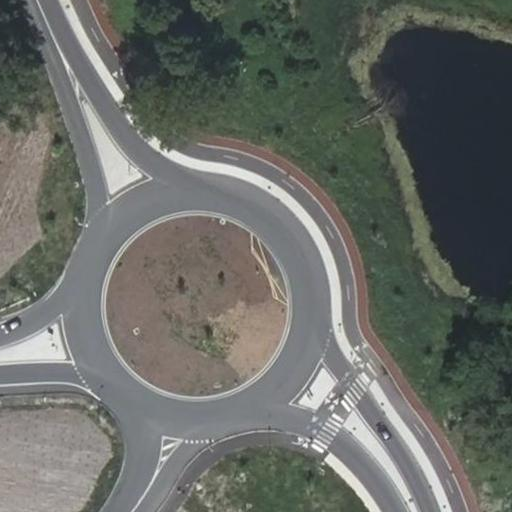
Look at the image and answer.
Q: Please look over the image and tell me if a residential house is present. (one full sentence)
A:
No, this view has no residential house in it.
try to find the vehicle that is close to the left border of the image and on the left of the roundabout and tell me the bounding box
[2,318,20,332]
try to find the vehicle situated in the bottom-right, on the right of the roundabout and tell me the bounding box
[376,422,392,441]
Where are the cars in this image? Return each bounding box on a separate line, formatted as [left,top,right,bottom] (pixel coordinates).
[2,318,20,332]
[376,422,392,441]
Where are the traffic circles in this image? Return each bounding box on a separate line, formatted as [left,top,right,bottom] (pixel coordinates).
[59,168,339,478]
